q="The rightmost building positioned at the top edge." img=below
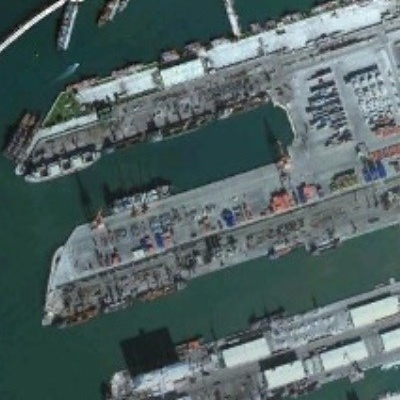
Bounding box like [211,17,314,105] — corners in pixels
[345,1,384,26]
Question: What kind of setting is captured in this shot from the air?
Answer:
port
